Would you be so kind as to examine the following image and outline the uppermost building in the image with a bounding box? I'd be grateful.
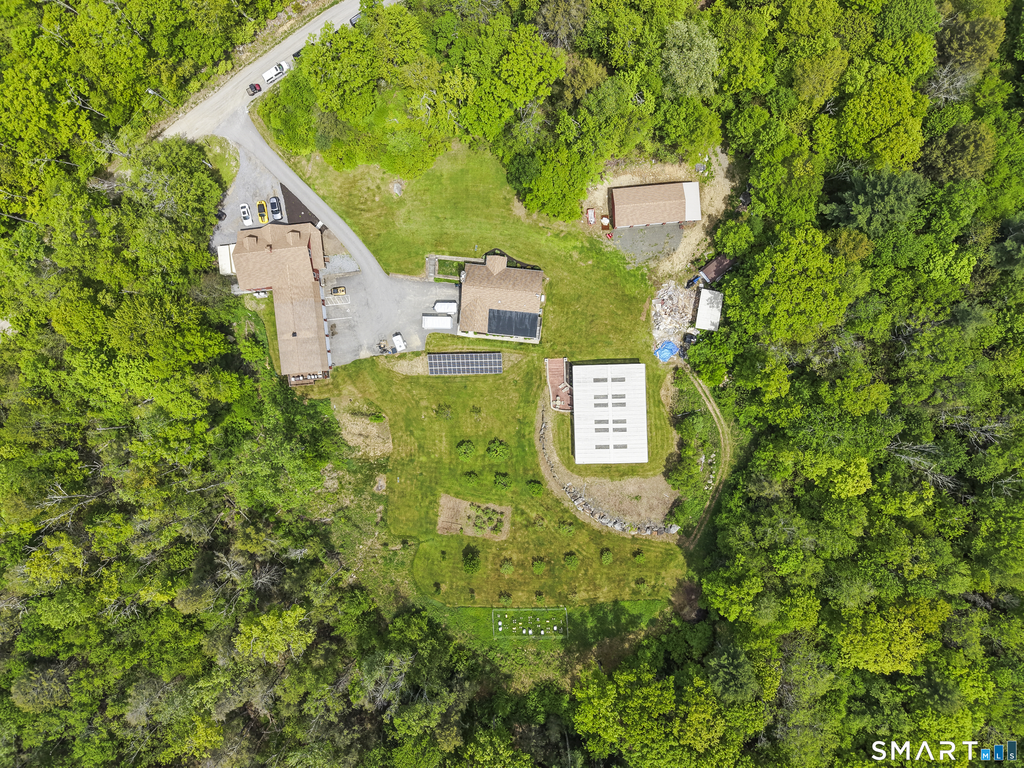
[612,182,701,229]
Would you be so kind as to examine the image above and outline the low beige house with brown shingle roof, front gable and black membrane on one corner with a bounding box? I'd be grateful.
[459,255,543,339]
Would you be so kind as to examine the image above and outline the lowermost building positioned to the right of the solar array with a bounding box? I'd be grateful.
[567,364,649,464]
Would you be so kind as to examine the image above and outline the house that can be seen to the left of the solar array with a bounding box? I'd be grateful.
[232,223,330,386]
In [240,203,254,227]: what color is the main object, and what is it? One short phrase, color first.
white car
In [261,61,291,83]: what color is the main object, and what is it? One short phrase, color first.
white truck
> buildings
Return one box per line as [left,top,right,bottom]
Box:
[693,289,723,331]
[232,223,330,386]
[699,253,734,284]
[459,255,543,339]
[567,364,649,464]
[612,182,701,229]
